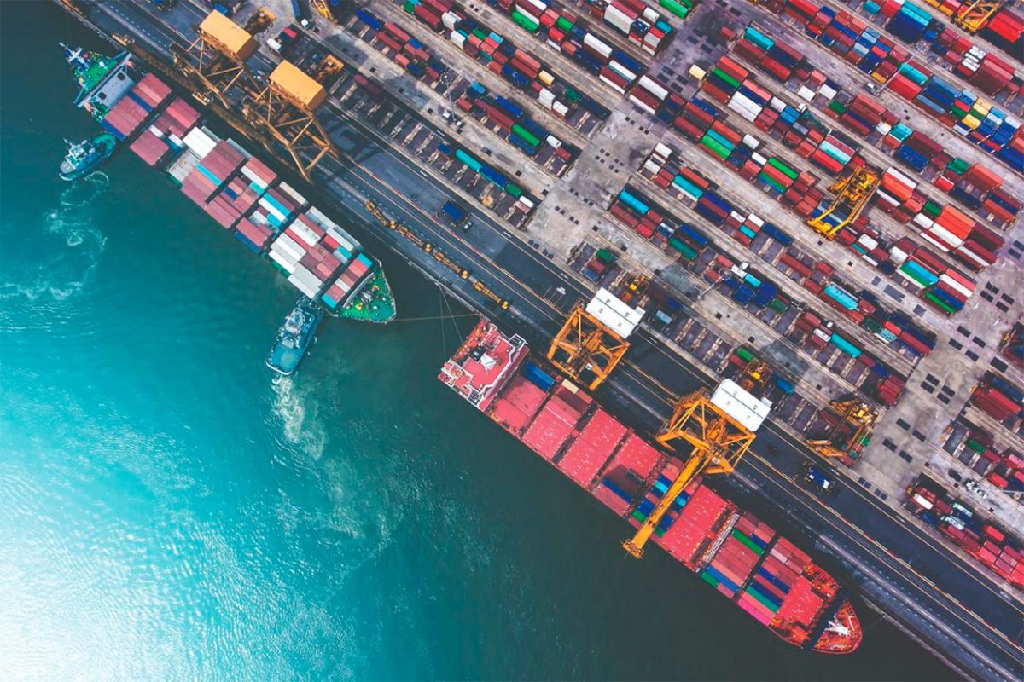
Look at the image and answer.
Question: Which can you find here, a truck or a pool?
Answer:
truck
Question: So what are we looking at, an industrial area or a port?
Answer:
port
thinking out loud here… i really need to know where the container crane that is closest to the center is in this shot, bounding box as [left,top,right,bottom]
[542,285,647,395]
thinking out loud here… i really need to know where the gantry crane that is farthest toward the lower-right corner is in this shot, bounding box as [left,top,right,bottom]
[796,392,875,456]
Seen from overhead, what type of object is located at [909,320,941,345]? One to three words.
shipping container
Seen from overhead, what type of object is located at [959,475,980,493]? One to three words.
vehicle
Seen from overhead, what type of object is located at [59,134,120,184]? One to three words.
boat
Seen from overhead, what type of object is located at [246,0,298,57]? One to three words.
container crane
